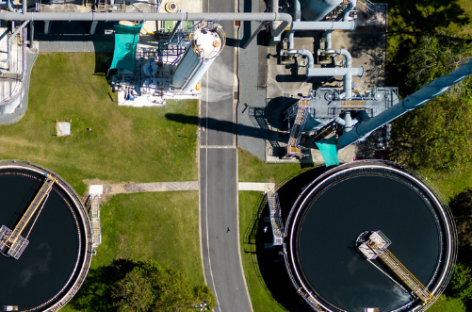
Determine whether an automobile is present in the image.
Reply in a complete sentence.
No, there isn't any automobile down there.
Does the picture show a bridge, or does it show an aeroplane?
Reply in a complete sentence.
Visible in the photo is a bridge.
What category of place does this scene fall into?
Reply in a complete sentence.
This image shows an industrial area.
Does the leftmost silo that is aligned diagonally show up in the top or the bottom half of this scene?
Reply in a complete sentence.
Seen from above, the leftmost silo that is aligned diagonally lies in the top half of the view.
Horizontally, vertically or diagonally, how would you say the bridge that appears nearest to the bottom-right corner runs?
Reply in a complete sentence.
Seen from above, the bridge that appears nearest to the bottom-right corner lies diagonally.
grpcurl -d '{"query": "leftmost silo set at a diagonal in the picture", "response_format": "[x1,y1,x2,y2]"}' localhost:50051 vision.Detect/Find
[167,21,225,94]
